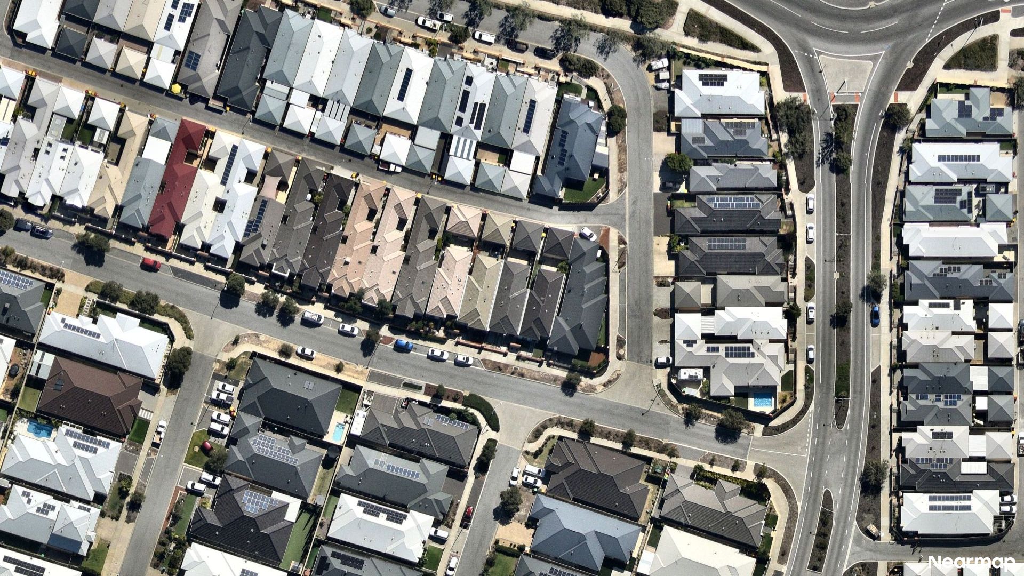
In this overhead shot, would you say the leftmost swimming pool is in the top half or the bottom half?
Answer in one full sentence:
The leftmost swimming pool sits in the bottom half of the picture.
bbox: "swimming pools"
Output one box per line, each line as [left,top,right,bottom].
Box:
[752,392,774,407]
[331,421,346,444]
[25,418,55,438]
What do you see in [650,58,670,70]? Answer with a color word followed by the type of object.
white vehicle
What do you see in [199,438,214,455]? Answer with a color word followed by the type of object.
red car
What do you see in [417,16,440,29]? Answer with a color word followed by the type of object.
white vehicle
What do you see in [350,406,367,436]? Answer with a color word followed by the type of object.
white camper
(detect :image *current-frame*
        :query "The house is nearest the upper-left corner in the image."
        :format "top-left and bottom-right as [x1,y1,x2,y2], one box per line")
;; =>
[13,0,65,48]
